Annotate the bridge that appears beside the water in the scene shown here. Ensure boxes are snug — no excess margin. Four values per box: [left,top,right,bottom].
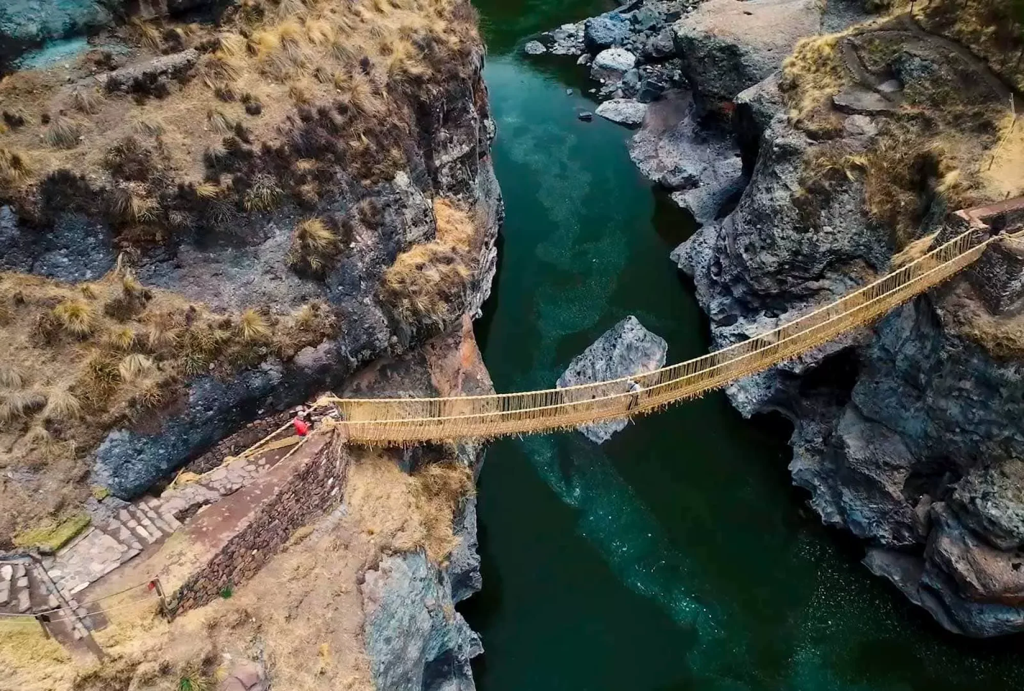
[185,212,1024,490]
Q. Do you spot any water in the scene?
Yes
